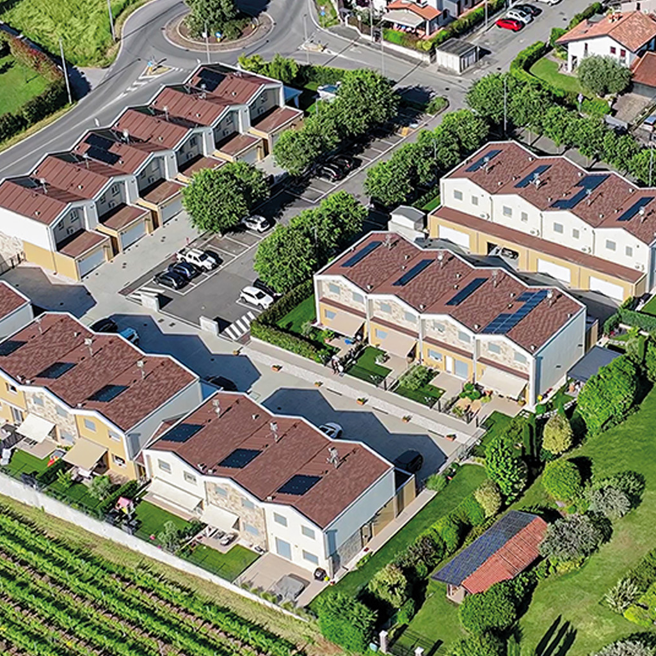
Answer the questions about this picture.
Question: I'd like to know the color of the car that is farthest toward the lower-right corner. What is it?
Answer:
black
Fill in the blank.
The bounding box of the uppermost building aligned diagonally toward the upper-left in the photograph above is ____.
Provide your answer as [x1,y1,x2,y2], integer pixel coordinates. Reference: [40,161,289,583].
[0,56,294,281]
